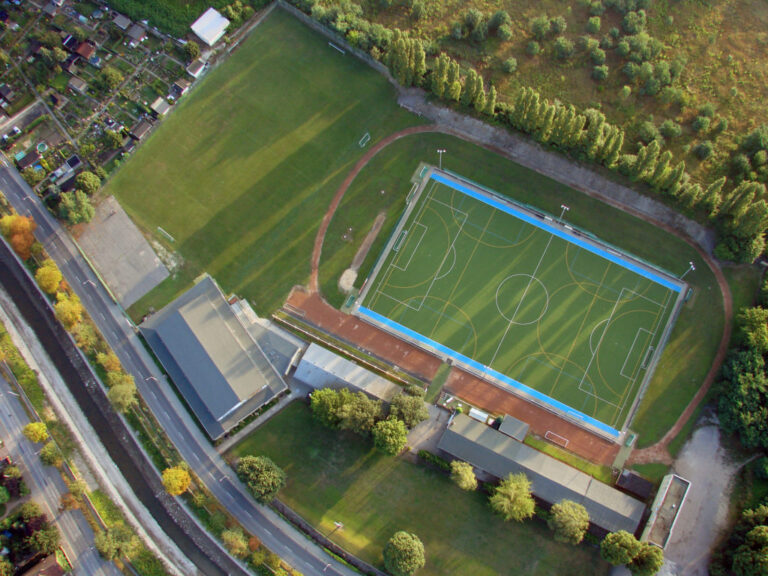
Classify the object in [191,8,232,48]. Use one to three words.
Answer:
building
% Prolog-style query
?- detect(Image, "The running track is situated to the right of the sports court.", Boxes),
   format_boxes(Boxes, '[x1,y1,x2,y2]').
[282,124,732,465]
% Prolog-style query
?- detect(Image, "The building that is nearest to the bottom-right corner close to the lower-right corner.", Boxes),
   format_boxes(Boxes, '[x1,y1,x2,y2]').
[640,475,692,549]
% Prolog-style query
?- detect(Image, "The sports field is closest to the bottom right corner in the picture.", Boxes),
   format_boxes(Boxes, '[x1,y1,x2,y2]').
[349,165,692,447]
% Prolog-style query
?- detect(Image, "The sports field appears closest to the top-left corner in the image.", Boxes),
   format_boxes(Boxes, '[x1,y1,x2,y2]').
[104,8,397,325]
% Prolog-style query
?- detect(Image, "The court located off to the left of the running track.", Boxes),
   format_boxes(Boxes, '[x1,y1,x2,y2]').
[78,196,168,305]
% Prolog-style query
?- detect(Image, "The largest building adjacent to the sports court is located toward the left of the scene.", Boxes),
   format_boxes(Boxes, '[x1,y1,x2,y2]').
[138,274,288,440]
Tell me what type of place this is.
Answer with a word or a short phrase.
sports ground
